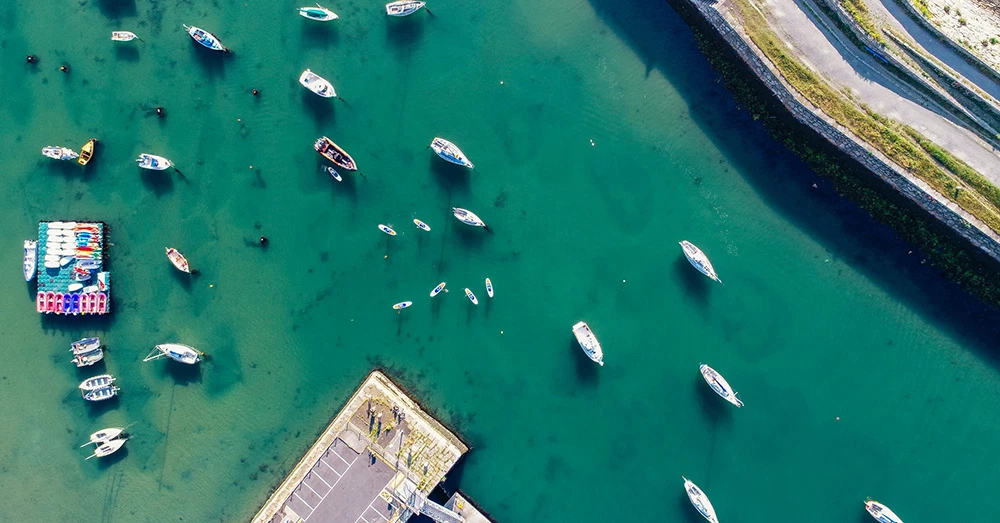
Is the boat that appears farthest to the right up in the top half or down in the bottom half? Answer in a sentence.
It is in the bottom half that the boat that appears farthest to the right appears.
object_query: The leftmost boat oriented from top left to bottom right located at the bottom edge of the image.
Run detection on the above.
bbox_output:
[683,476,724,523]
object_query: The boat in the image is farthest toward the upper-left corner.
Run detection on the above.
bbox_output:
[110,31,147,44]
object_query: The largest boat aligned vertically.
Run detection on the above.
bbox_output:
[22,237,39,281]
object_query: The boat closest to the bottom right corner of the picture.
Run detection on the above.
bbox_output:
[860,498,903,523]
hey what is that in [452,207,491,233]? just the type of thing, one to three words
boat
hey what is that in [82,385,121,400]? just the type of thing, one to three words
boat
